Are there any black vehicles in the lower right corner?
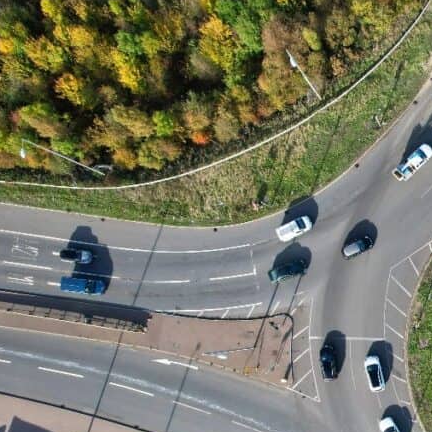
Yes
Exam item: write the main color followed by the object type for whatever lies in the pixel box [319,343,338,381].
black car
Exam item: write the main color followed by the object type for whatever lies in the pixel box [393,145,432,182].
white truck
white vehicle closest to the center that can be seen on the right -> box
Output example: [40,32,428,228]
[273,216,315,243]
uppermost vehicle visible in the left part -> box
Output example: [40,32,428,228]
[60,248,95,265]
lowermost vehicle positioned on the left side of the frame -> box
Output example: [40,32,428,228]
[60,276,107,295]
